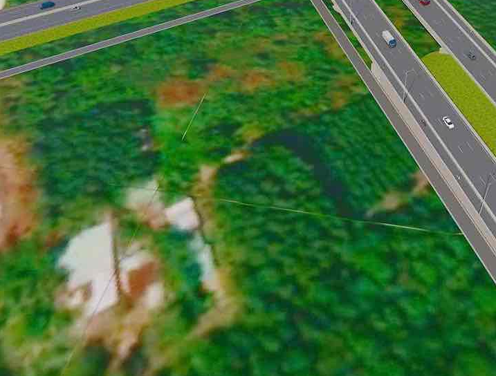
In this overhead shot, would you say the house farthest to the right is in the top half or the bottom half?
bottom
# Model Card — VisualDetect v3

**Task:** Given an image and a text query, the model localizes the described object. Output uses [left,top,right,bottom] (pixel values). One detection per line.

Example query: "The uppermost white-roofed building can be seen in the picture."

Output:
[165,196,201,234]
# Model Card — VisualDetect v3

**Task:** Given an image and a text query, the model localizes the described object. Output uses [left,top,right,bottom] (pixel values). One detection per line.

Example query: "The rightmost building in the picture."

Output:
[192,233,219,290]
